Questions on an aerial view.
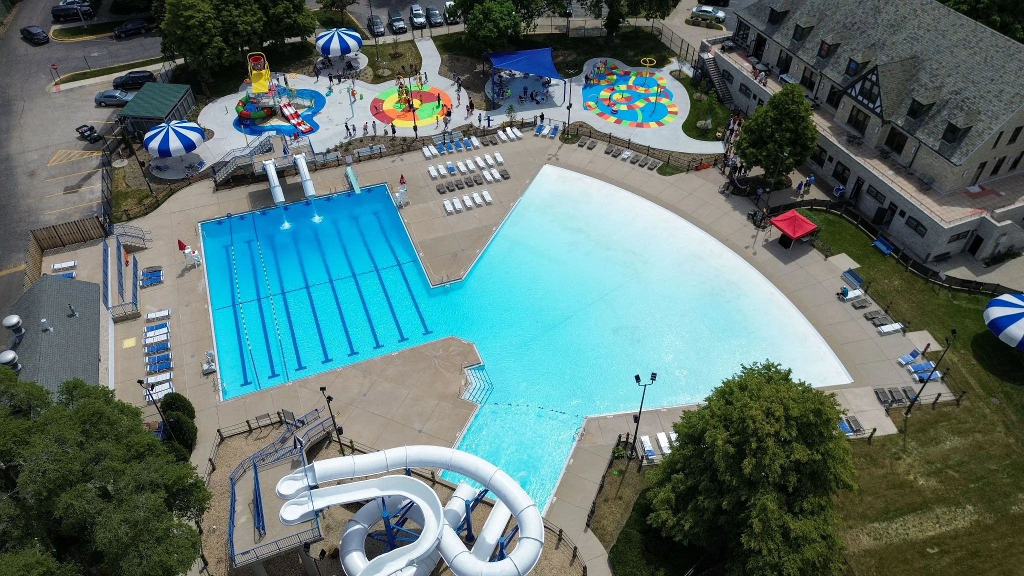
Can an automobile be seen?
Yes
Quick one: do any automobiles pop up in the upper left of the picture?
Yes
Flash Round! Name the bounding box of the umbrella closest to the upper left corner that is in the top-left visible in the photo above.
[144,124,204,167]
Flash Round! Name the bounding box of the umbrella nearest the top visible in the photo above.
[315,32,362,67]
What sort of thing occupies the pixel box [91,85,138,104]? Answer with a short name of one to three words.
car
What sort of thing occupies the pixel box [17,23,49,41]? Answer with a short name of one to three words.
car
